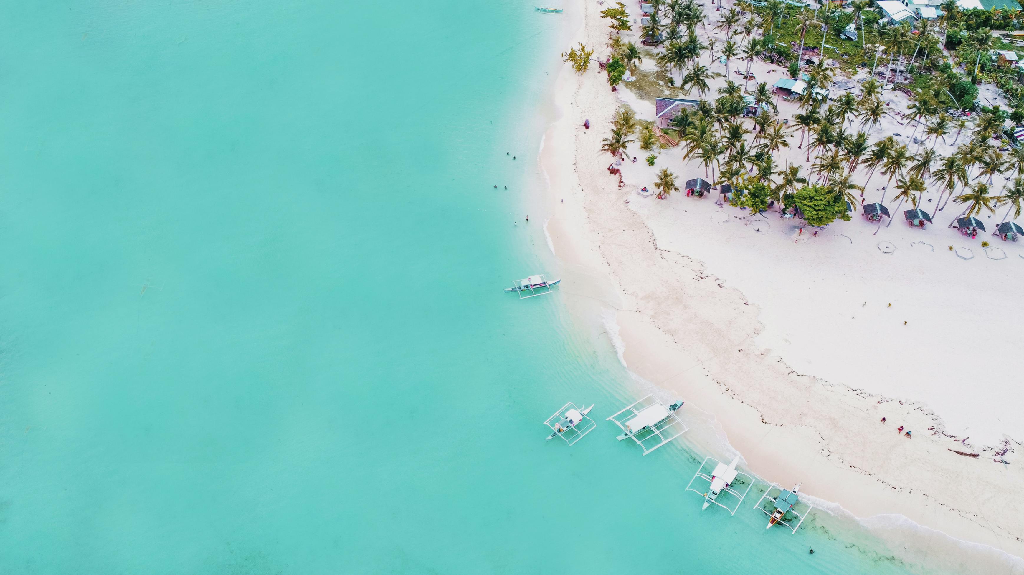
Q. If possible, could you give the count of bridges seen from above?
zero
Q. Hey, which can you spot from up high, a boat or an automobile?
boat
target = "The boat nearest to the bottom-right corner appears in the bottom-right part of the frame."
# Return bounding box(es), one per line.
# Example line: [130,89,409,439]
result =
[753,483,812,534]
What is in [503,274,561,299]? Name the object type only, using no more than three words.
boat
